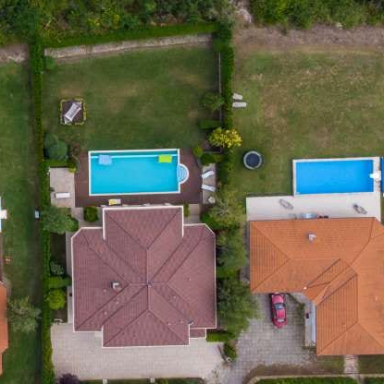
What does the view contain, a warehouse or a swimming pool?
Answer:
swimming pool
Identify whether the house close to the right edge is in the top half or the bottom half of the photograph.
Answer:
bottom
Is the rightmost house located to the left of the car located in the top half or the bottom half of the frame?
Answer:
bottom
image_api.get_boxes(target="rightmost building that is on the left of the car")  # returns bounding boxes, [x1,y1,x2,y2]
[71,205,217,348]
